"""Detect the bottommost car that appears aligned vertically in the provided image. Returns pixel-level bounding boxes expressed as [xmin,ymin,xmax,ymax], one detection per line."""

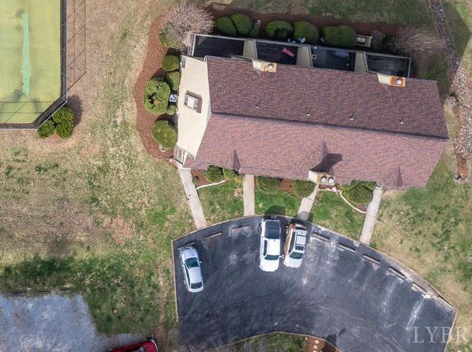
[176,245,204,293]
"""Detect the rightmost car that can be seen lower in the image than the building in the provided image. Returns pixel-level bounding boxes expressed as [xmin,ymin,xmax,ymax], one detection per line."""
[282,221,308,269]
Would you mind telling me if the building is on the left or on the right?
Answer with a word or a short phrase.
right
